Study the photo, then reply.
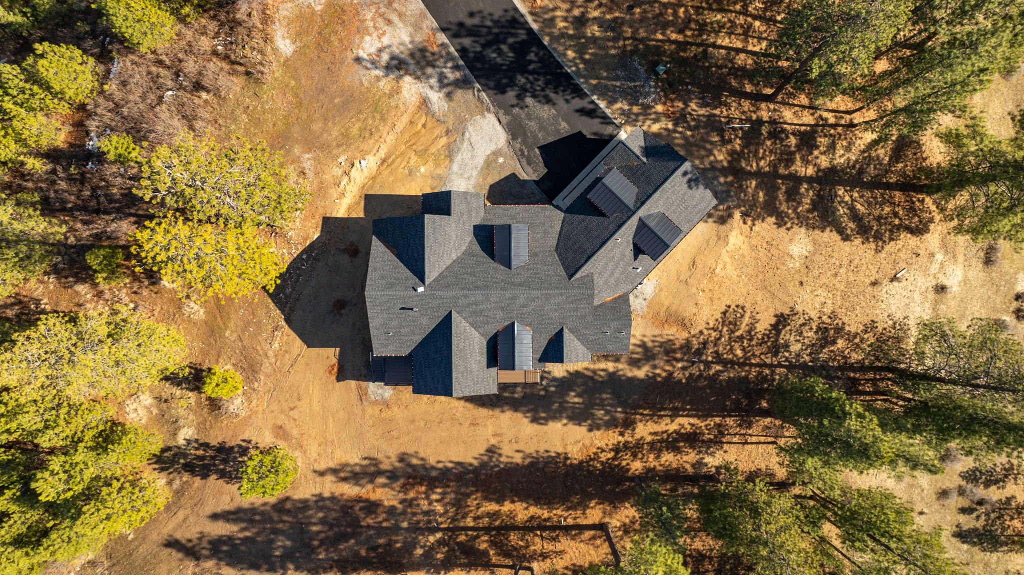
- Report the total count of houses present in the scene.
one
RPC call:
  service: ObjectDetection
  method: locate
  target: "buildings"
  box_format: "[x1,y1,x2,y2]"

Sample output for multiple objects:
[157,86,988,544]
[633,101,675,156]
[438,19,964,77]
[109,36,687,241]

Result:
[365,124,718,397]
